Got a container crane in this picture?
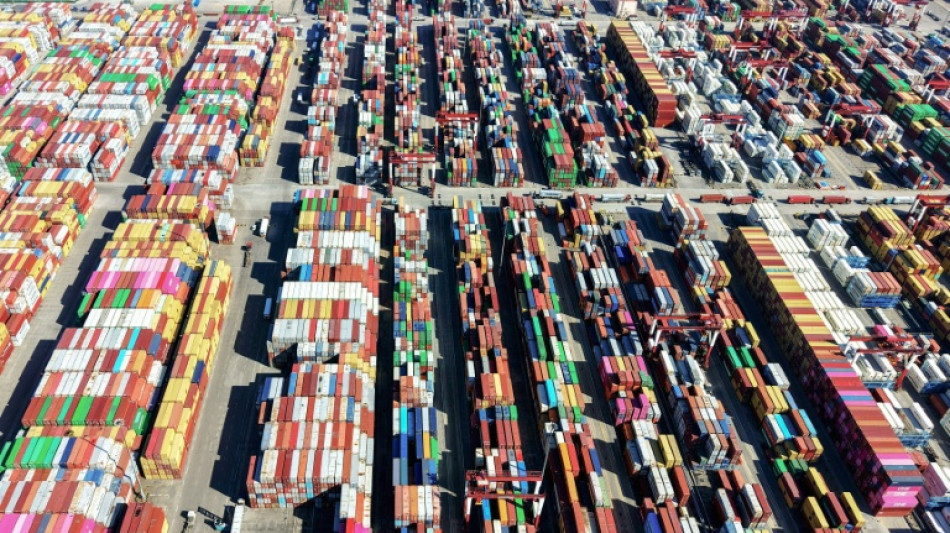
Yes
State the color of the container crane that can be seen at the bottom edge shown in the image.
red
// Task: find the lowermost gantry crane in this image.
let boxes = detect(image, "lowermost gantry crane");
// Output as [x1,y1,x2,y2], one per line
[459,474,549,533]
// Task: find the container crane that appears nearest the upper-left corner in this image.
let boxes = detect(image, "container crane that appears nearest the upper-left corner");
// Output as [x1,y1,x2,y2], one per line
[386,154,437,197]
